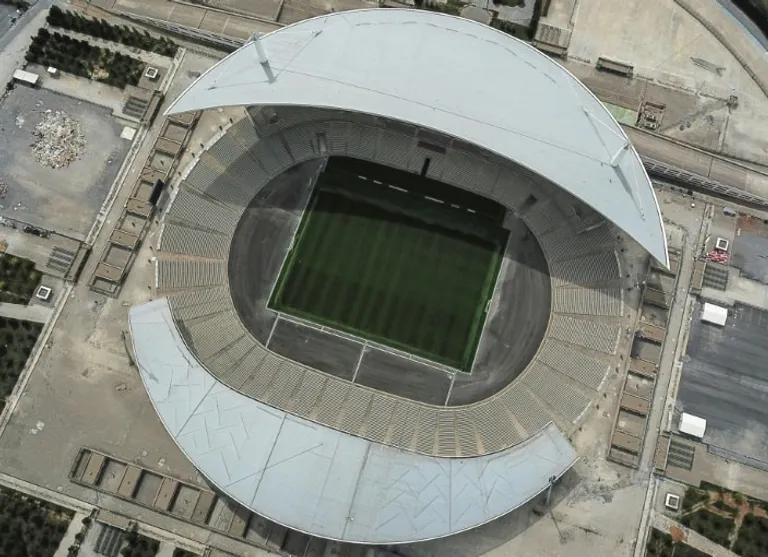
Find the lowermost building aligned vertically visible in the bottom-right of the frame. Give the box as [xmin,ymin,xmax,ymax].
[653,436,675,472]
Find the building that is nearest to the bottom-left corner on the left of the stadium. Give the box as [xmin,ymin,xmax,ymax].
[90,508,131,532]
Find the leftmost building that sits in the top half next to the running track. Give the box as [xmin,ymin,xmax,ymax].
[87,76,201,298]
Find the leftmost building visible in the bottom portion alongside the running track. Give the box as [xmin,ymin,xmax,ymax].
[68,448,395,557]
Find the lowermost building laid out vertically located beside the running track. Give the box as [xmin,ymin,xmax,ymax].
[606,216,688,467]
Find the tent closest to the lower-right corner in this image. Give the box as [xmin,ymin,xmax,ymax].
[678,411,709,438]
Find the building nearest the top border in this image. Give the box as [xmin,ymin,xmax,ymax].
[530,18,573,61]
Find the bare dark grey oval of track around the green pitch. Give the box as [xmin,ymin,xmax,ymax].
[228,157,550,405]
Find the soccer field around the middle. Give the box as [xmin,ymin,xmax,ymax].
[268,157,510,373]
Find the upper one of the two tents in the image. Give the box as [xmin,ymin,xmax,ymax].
[703,301,730,326]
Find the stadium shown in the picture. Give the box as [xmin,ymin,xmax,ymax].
[130,8,668,541]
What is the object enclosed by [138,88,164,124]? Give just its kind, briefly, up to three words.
building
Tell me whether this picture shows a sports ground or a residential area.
sports ground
